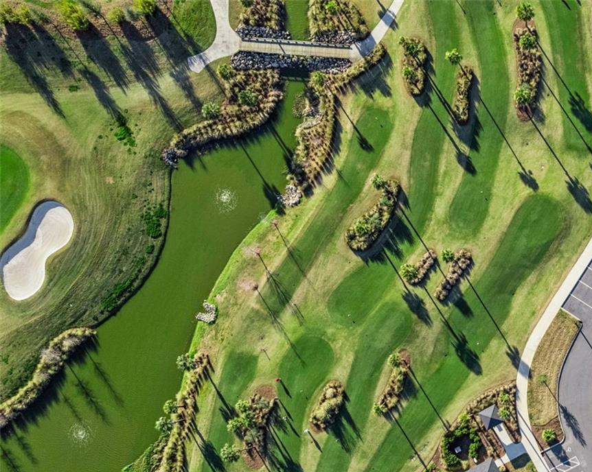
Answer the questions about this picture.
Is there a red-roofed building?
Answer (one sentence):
No, the photo shows no red-roofed building.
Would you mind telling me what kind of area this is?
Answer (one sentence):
The area seen from above is a golf course.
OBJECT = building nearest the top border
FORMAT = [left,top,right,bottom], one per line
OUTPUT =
[478,404,503,429]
